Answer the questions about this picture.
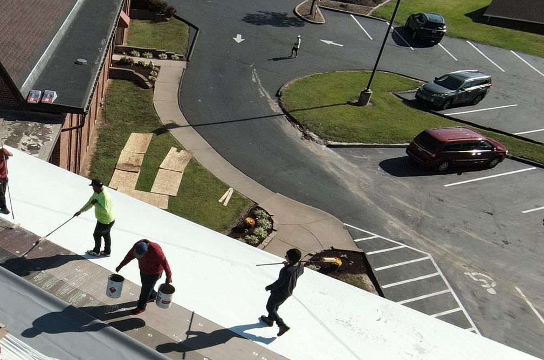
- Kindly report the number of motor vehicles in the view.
3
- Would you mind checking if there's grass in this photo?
Yes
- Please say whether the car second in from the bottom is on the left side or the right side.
right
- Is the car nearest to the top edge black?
Yes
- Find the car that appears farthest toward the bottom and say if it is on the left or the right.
right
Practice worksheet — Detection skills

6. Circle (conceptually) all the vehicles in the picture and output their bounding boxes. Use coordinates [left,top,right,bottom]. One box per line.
[407,15,446,40]
[416,69,494,109]
[405,122,517,172]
